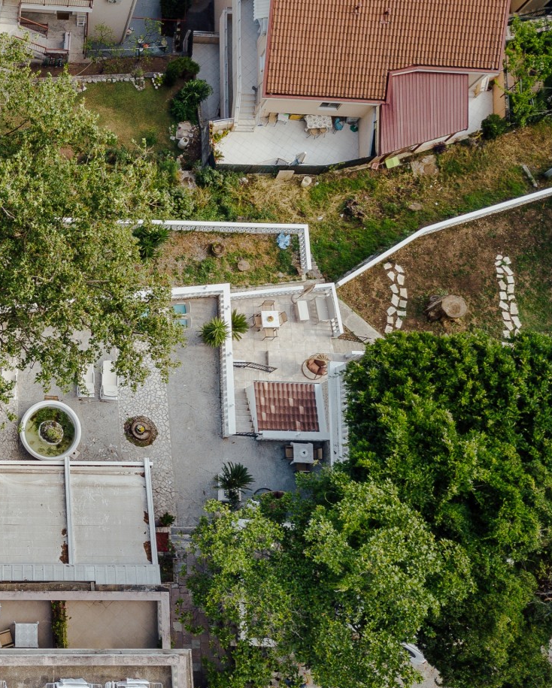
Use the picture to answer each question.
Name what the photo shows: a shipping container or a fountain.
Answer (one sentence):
There is a fountain in the scene.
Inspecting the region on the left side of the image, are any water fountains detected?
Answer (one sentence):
Yes, a water fountain can be seen on the left side of the image.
